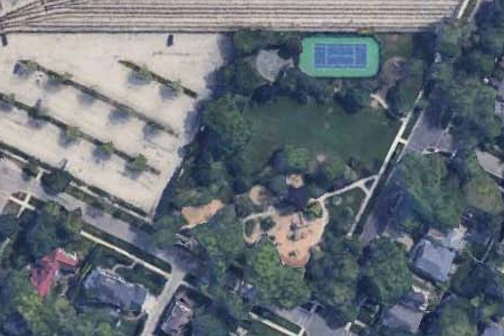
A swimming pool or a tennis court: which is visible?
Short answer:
tennis court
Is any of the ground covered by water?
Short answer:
No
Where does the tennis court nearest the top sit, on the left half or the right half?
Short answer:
right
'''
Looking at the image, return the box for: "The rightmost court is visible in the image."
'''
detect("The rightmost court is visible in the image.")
[300,35,382,78]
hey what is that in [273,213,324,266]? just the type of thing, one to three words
playground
